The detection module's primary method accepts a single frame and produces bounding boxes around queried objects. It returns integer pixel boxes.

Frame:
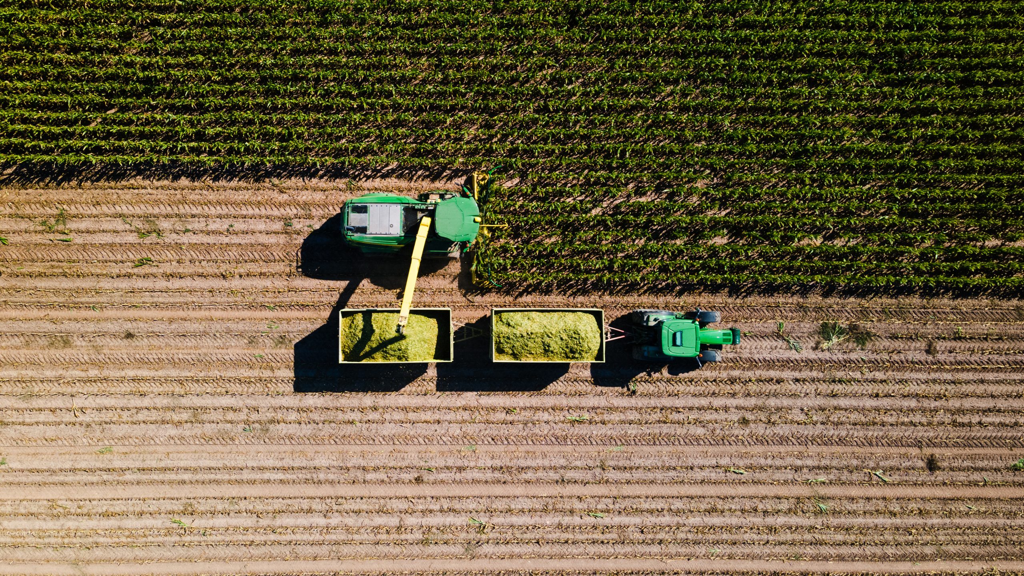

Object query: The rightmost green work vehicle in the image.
[623,306,740,371]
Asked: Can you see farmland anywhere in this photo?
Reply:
Yes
